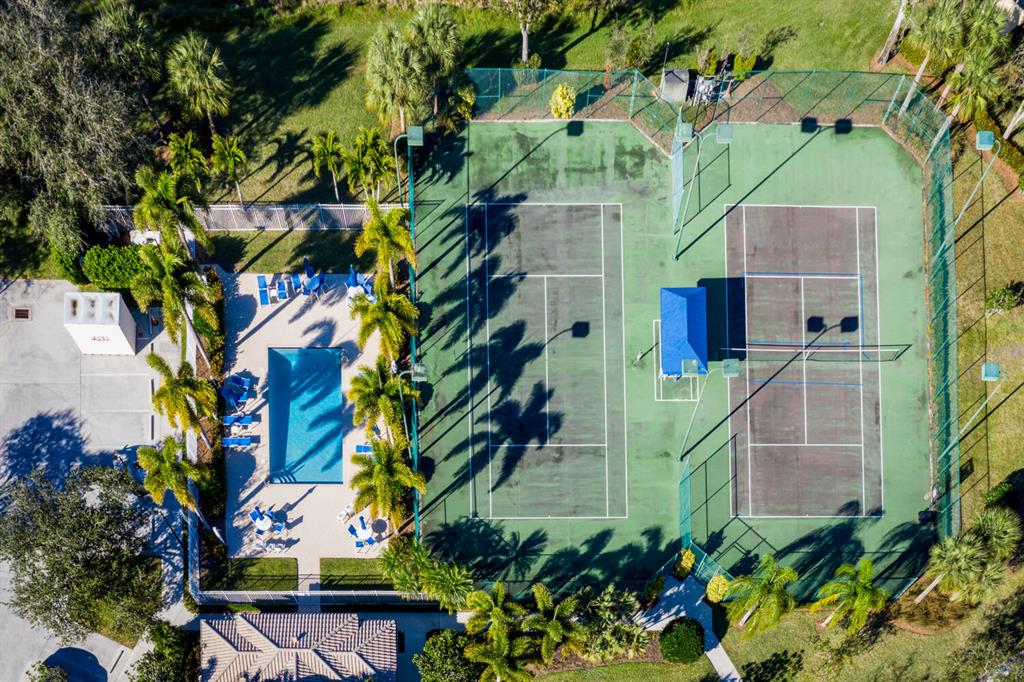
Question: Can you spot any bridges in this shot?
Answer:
No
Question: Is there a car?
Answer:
No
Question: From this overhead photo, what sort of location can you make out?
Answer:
sports ground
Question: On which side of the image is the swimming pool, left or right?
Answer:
left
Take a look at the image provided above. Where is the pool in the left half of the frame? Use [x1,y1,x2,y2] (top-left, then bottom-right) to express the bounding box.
[261,341,353,487]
